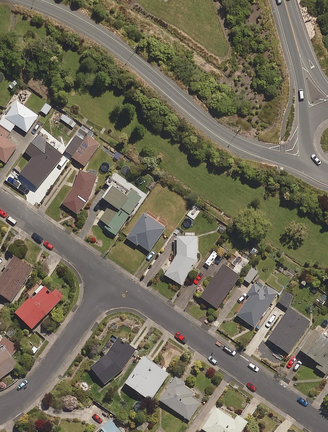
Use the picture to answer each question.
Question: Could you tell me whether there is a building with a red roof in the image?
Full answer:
Yes, the photo shows a building with a red roof.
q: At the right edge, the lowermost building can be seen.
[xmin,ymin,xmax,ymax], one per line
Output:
[300,329,328,376]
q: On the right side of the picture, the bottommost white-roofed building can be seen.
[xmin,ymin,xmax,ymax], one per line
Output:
[202,408,246,432]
